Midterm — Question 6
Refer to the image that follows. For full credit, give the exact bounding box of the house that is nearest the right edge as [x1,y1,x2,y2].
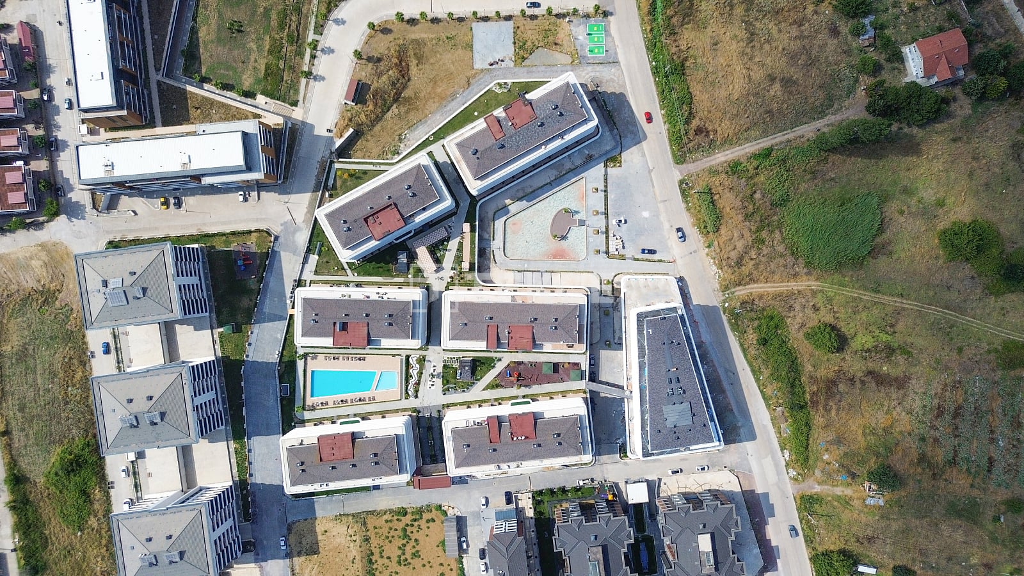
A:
[897,28,968,88]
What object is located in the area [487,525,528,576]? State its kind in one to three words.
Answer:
house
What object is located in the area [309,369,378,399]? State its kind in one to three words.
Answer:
swimming pool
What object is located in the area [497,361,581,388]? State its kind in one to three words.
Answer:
playground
